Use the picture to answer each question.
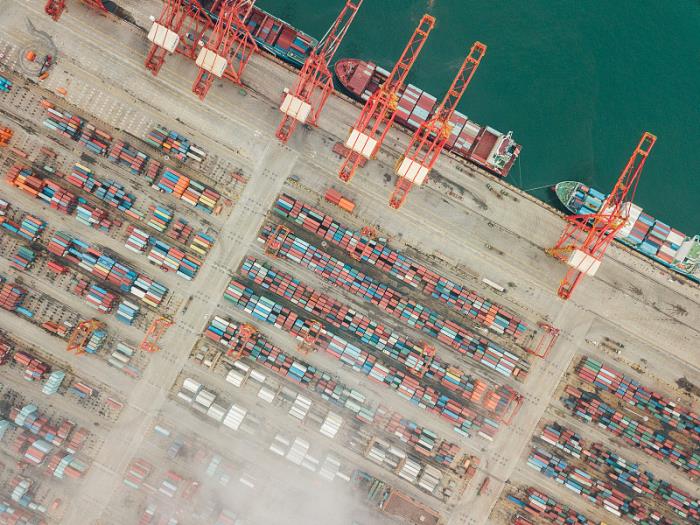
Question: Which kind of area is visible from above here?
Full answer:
What you see here is a port.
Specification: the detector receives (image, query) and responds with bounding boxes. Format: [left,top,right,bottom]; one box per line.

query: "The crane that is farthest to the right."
[546,127,661,304]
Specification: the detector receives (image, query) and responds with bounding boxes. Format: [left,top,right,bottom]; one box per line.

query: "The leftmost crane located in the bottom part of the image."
[73,319,112,355]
